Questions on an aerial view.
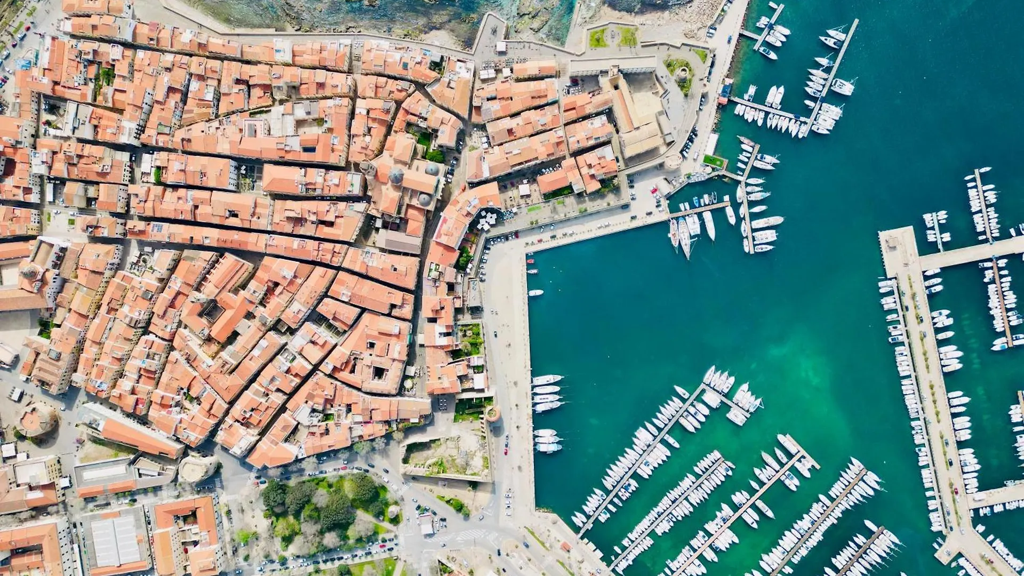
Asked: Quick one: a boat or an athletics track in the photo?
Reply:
boat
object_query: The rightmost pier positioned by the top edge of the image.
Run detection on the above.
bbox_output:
[803,16,859,137]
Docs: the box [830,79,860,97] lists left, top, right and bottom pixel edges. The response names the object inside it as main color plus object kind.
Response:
white boat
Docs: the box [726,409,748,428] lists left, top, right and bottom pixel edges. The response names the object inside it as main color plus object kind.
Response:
white boat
